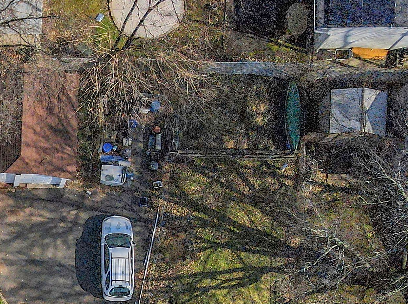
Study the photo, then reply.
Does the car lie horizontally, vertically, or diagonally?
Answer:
vertically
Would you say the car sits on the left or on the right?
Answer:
left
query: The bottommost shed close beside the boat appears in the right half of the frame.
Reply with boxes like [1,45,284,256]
[330,84,396,142]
